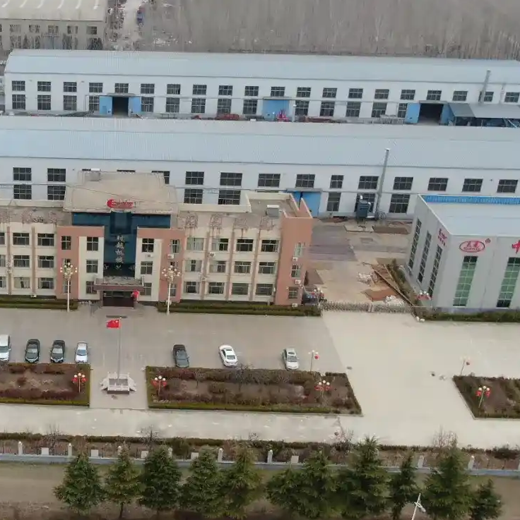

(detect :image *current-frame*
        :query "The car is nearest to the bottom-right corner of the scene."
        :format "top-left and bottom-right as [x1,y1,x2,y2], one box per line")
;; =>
[279,346,298,368]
